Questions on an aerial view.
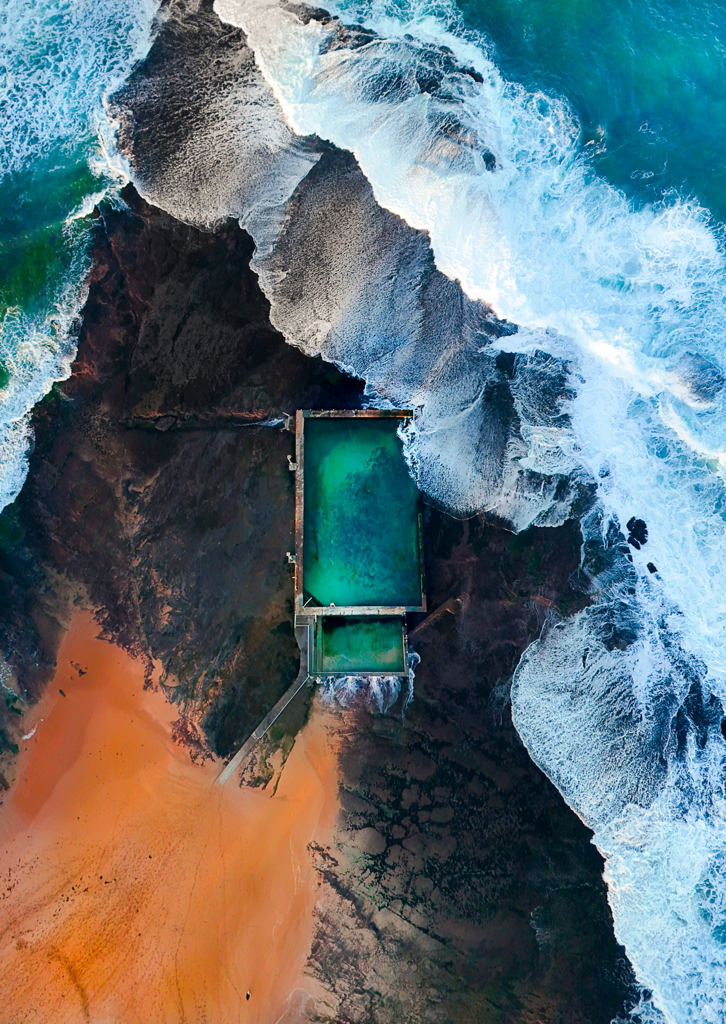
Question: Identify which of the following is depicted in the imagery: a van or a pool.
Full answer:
Looking from above, you can make out a pool.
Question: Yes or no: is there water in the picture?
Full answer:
Yes, some water is visible.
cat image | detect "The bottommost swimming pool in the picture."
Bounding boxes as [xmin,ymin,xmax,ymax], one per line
[309,613,409,678]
